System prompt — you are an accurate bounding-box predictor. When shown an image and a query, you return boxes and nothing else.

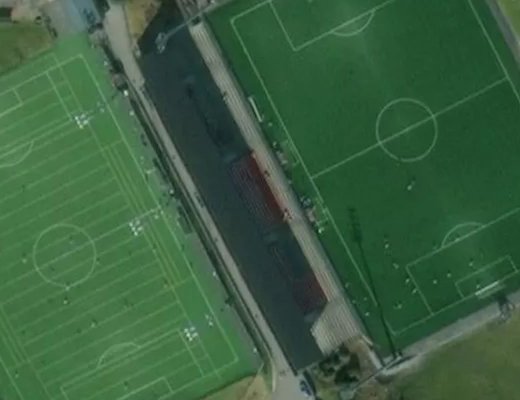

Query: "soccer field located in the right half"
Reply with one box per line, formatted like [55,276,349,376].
[205,0,520,361]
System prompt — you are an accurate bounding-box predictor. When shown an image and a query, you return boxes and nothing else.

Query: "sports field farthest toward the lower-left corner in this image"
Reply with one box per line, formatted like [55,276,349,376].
[0,35,258,400]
